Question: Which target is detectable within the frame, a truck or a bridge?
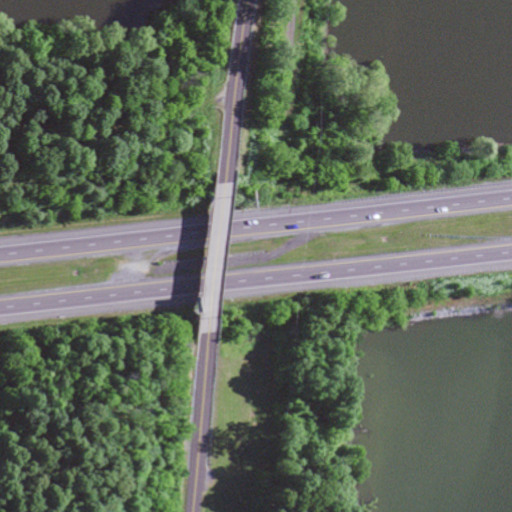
bridge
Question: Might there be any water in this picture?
Yes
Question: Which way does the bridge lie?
from top to bottom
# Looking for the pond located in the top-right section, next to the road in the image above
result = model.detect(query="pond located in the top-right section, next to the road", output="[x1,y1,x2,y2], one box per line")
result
[325,0,512,148]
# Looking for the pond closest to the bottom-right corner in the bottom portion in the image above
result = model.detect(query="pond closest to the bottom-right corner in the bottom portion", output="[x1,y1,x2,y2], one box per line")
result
[356,308,512,512]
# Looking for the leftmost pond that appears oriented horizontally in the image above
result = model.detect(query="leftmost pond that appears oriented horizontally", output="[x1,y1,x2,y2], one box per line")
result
[0,0,171,28]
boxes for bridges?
[200,178,236,337]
